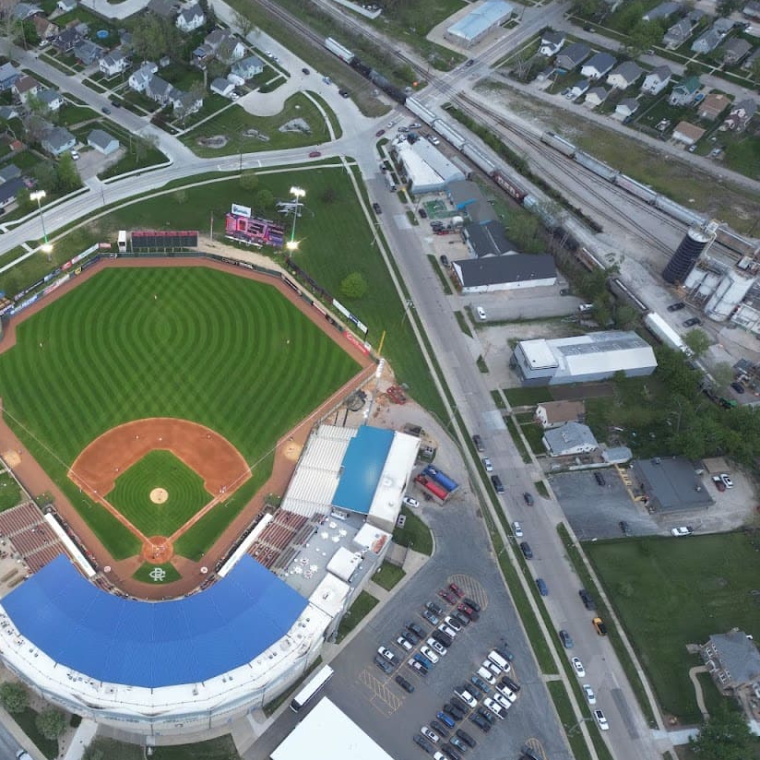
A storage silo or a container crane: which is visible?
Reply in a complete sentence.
Of the two, only a storage silo appears.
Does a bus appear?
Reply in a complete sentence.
Yes, the image includes a bus.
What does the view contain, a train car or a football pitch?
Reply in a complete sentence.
The one in the frame is a train car.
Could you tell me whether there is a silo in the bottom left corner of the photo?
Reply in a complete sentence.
No, looking in the bottom left corner of the photo, there is no silo.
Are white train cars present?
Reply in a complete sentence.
Yes, there's a white train car down there.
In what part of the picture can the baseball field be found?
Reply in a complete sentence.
The baseball field sits in the left section of the image.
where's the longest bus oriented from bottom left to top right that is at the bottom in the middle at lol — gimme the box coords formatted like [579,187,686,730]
[289,664,333,713]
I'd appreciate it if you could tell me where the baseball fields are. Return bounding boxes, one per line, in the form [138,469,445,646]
[0,254,375,601]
